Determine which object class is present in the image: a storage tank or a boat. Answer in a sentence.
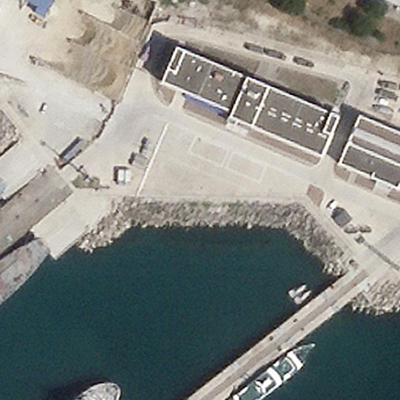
This aerial view contains a boat.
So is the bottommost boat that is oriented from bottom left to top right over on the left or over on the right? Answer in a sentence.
The bottommost boat that is oriented from bottom left to top right sits on the right side.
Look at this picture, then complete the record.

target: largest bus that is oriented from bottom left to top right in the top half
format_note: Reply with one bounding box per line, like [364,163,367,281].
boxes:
[61,139,82,162]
